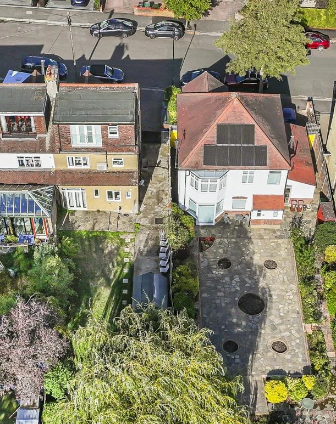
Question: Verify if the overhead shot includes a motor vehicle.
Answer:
Yes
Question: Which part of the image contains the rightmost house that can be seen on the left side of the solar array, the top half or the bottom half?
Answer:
top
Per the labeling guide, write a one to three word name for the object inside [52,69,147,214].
house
